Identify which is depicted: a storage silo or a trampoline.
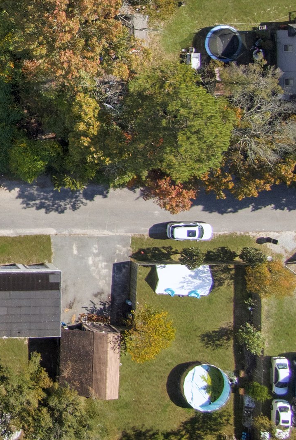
trampoline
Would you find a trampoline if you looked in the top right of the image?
Yes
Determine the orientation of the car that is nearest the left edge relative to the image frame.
from side to side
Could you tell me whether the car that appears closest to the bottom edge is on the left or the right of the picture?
right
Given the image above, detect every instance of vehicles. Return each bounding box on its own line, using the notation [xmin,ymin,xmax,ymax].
[270,398,294,439]
[289,356,296,398]
[165,221,211,242]
[268,355,292,396]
